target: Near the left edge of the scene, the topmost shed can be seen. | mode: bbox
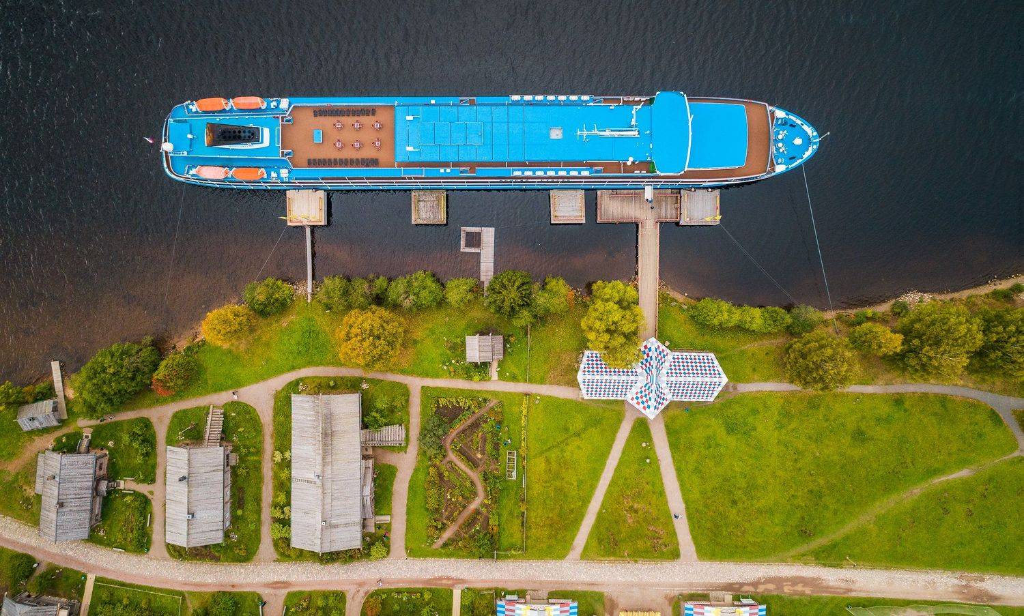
[14,399,65,432]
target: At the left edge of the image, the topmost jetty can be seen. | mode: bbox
[51,361,68,419]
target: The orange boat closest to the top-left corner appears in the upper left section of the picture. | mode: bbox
[195,97,230,111]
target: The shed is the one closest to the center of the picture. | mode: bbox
[466,332,503,368]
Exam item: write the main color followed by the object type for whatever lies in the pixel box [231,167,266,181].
orange boat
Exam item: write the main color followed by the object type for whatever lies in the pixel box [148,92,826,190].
blue ship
